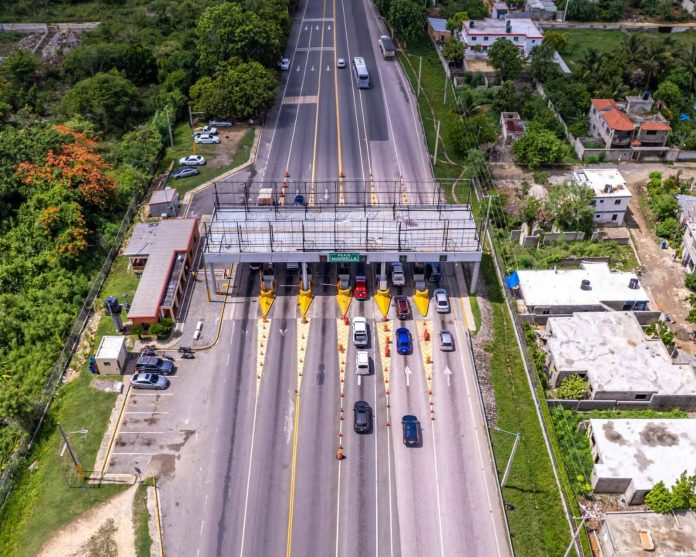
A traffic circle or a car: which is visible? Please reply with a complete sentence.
Visible in the photo is a car.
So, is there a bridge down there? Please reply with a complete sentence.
No, no bridge can be seen from above.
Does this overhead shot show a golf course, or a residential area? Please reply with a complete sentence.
It's a residential area.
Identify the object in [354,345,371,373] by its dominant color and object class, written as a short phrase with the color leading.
white car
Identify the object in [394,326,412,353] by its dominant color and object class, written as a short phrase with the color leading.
blue car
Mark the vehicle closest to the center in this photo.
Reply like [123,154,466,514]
[353,271,368,296]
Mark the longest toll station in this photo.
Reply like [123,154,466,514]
[203,205,484,294]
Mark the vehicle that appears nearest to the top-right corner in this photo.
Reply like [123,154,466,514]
[379,35,396,58]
